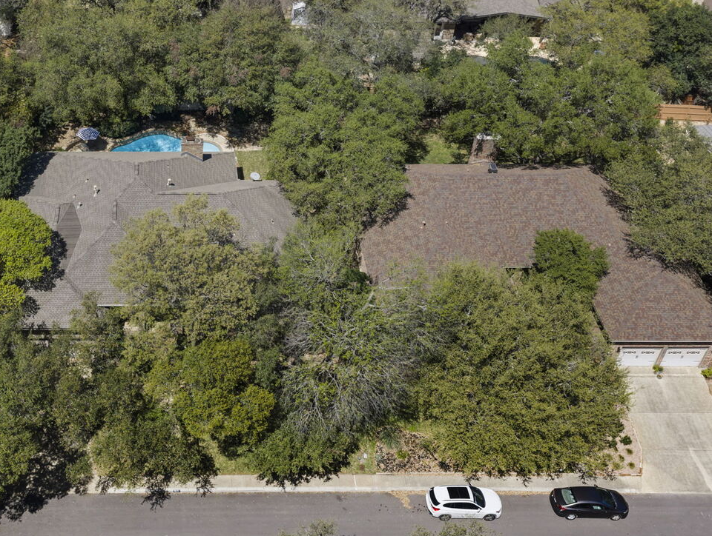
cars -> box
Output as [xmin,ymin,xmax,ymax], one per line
[426,482,504,521]
[549,482,632,521]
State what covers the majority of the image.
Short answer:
trees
